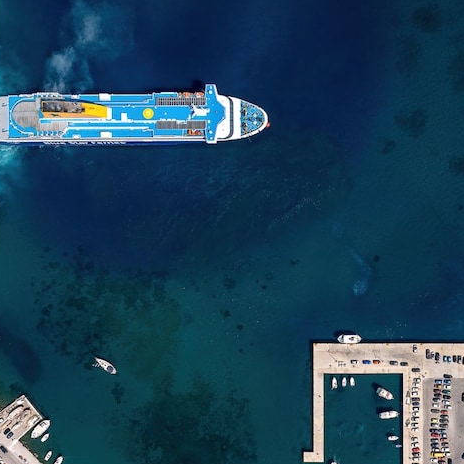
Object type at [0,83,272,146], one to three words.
ship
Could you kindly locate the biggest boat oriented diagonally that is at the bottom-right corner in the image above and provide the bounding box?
[376,387,392,400]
